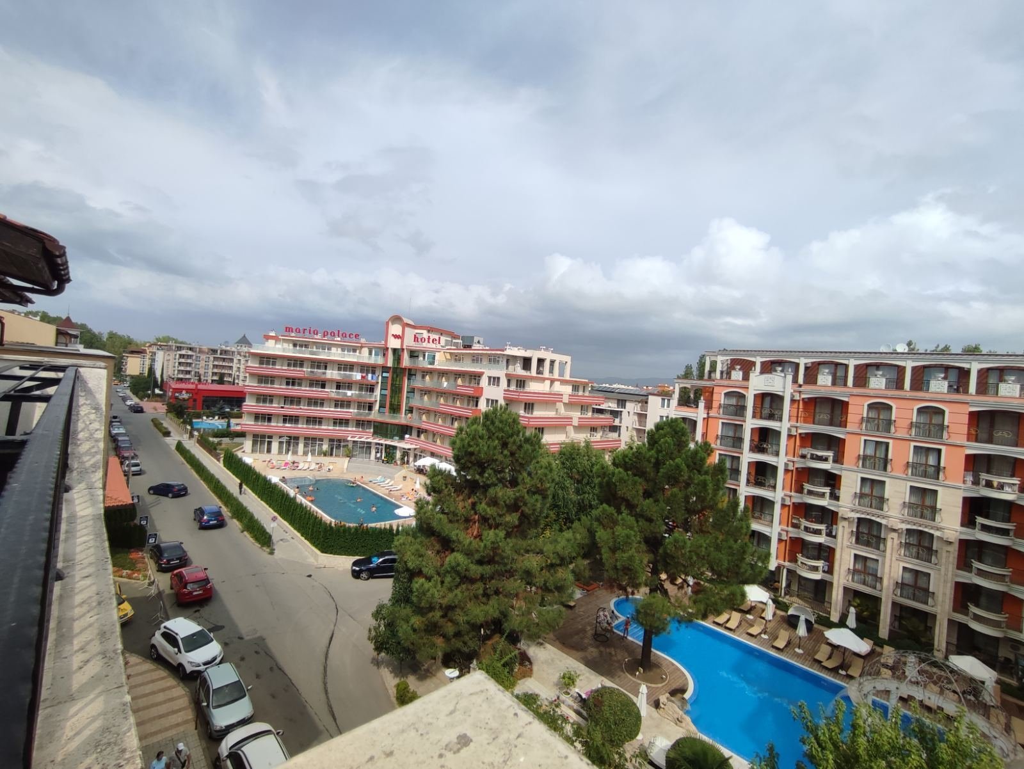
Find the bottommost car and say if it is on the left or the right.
left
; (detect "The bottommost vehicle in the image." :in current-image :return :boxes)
[217,715,295,769]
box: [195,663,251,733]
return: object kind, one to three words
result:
car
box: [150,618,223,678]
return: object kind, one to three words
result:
car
